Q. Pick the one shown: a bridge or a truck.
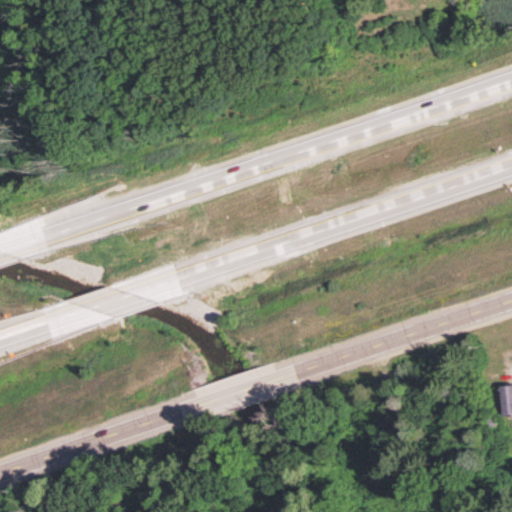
bridge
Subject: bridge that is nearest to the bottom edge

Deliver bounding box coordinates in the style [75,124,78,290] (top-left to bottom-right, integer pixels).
[188,358,300,421]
